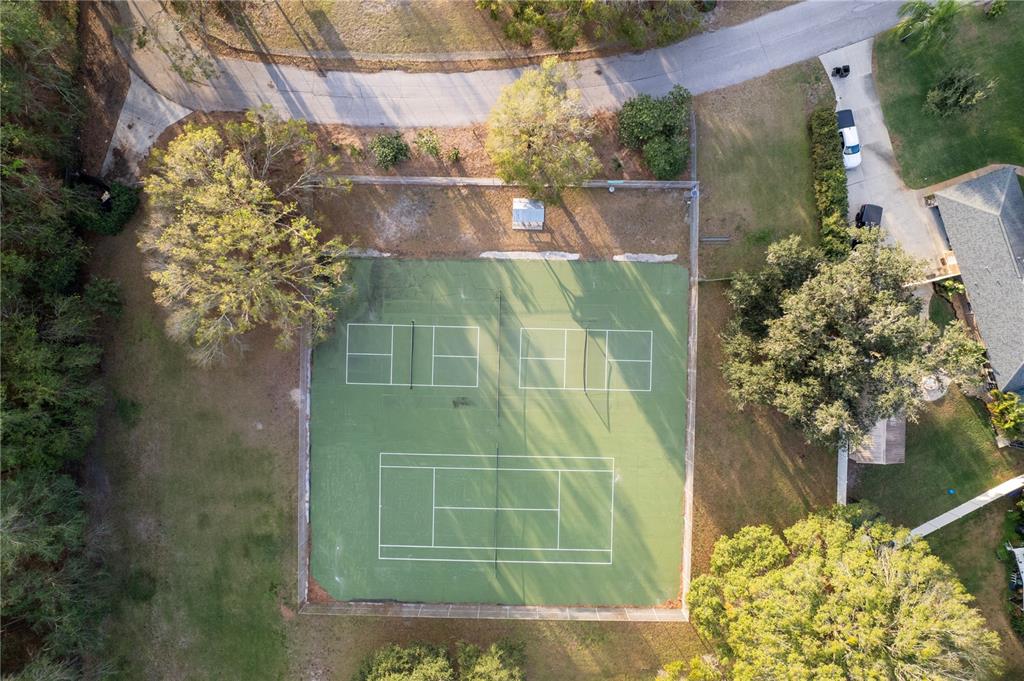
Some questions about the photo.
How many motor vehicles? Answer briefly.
2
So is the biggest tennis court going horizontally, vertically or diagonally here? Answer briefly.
horizontally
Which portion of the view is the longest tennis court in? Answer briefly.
bottom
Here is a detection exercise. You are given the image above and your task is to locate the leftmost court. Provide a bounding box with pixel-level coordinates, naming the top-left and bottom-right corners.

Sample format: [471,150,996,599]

[345,323,479,387]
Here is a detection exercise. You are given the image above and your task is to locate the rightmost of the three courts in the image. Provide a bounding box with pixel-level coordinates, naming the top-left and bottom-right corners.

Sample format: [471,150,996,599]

[519,328,653,391]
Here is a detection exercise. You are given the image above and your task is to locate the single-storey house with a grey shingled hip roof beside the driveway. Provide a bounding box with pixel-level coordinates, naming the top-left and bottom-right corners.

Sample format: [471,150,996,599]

[933,168,1024,390]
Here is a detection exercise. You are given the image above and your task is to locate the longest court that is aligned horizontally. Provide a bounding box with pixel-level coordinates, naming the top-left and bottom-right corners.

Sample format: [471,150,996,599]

[379,453,614,565]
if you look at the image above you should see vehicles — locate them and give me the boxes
[832,107,861,170]
[854,205,882,253]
